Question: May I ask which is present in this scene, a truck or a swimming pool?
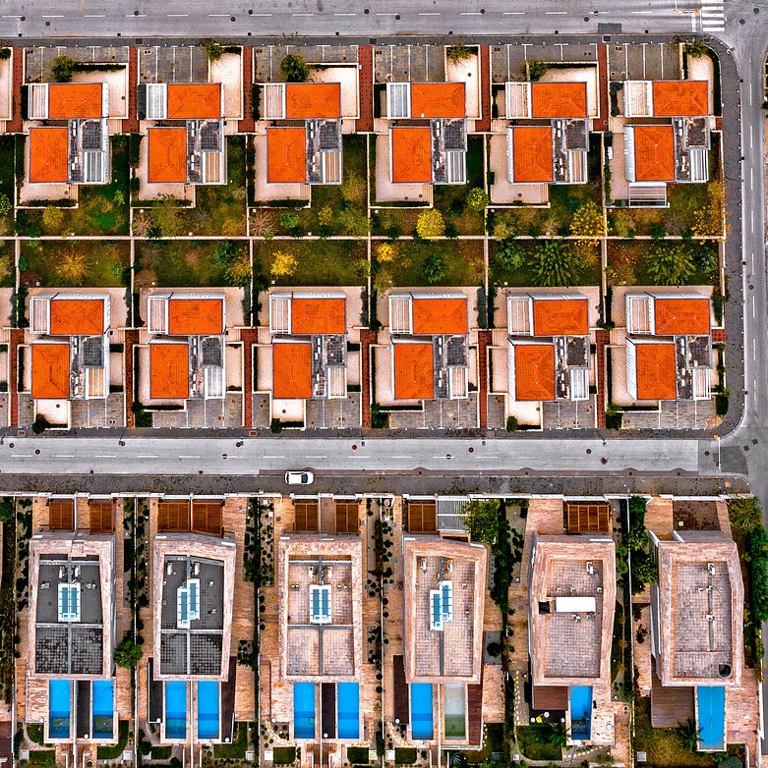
swimming pool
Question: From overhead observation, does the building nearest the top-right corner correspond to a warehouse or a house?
house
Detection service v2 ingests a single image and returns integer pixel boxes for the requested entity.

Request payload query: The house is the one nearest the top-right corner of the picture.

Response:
[607,81,709,203]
